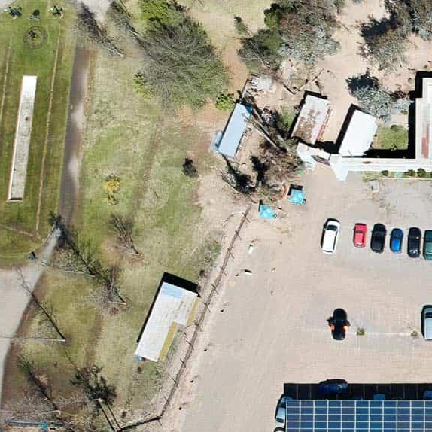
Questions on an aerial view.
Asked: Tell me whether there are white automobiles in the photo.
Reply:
Yes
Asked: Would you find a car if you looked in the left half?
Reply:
No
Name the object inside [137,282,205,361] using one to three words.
shed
